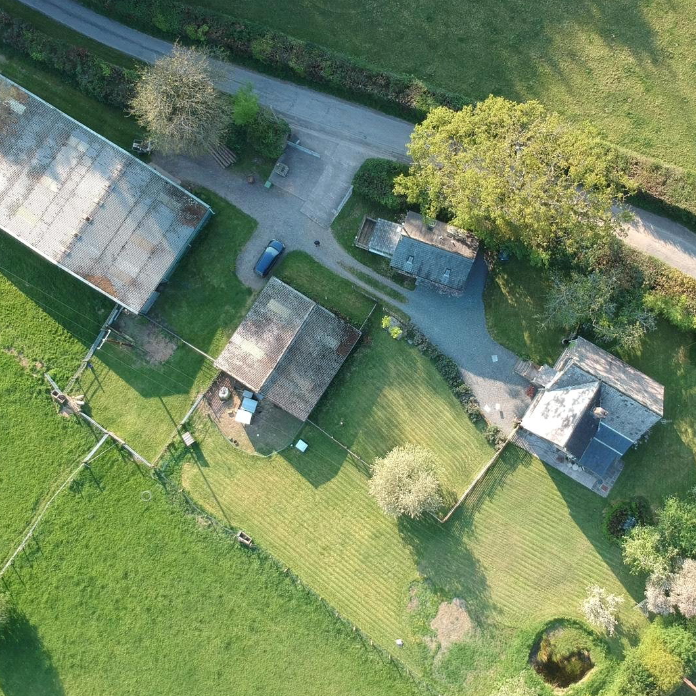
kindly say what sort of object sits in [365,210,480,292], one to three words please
house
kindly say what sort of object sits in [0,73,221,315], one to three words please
barn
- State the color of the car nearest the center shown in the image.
blue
